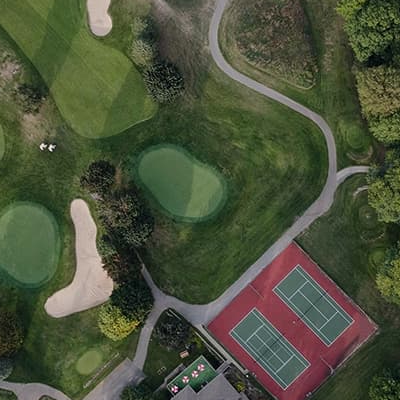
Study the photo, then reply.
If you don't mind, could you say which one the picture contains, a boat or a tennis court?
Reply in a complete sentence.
Looking from above, you can make out a tennis court.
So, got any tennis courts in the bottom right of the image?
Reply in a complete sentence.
Yes, in the bottom right of the image there is a tennis court.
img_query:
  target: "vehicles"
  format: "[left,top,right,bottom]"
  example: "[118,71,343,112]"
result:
[49,144,57,152]
[40,143,48,151]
